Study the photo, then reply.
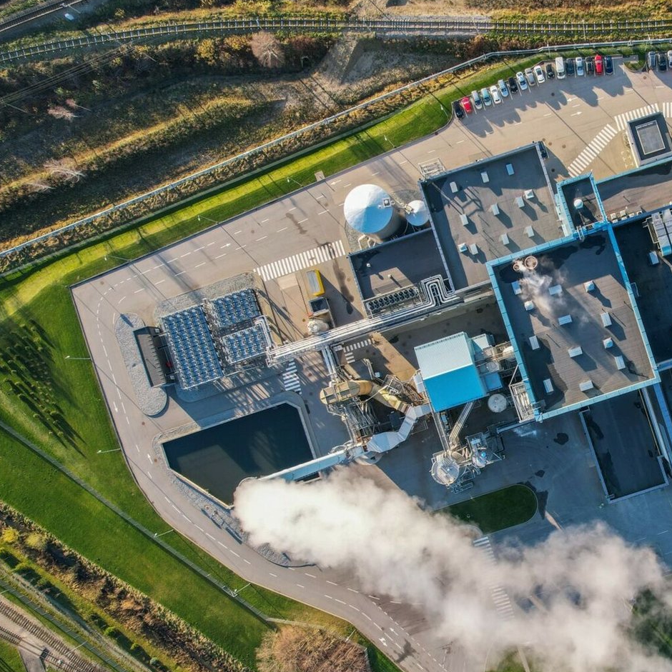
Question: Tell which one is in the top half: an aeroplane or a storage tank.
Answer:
storage tank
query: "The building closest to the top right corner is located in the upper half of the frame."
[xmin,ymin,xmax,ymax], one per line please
[626,113,672,169]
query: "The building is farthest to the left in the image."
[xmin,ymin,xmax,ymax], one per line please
[133,326,174,387]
